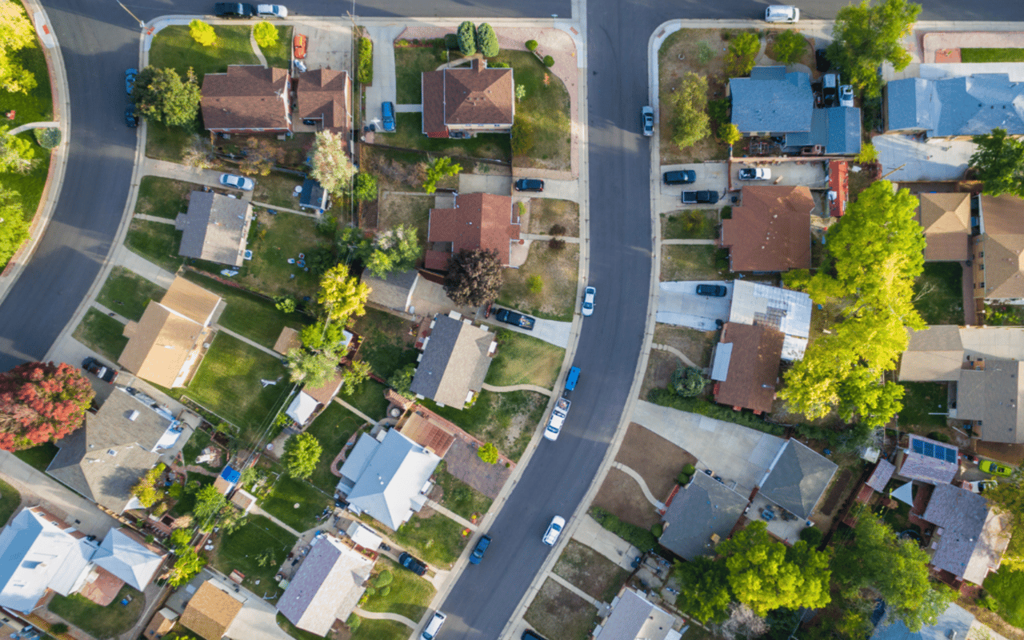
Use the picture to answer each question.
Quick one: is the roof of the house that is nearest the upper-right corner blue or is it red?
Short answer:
blue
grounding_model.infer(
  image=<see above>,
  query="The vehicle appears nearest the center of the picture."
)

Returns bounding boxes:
[494,307,536,331]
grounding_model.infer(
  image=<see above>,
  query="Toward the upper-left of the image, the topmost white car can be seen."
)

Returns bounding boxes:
[256,2,288,19]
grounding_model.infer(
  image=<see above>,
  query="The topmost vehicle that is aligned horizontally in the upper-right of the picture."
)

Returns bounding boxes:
[764,5,799,21]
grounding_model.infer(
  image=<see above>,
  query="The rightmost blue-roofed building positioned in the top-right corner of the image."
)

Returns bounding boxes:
[880,70,1024,139]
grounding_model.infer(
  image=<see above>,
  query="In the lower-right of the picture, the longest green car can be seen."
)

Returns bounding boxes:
[978,459,1013,475]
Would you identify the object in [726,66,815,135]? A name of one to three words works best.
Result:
house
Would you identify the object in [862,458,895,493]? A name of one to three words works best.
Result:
shed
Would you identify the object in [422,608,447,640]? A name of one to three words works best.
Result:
vehicle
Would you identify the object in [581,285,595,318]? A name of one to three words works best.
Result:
car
